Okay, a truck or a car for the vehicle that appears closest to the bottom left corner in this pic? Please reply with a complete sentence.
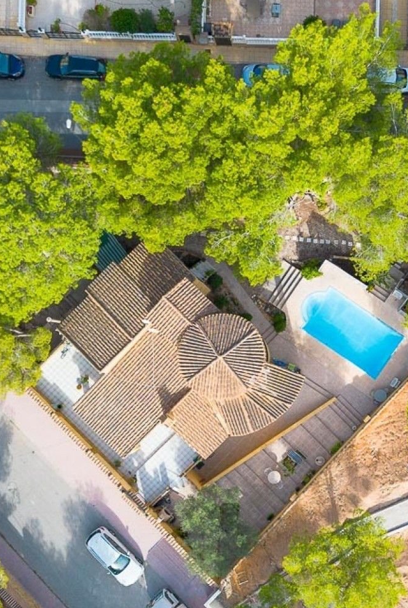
Looking closely, the vehicle that appears closest to the bottom left corner is a car.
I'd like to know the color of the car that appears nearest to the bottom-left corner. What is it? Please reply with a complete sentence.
From above, the car that appears nearest to the bottom-left corner appears white.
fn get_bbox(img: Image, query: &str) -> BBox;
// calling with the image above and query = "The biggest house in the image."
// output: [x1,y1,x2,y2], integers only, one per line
[46,244,305,461]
